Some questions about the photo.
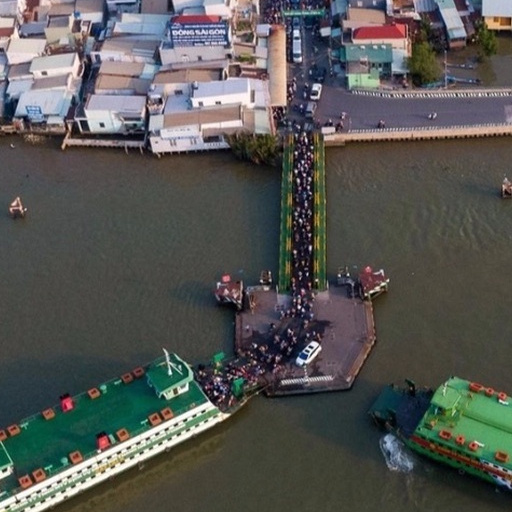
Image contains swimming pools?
No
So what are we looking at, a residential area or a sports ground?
residential area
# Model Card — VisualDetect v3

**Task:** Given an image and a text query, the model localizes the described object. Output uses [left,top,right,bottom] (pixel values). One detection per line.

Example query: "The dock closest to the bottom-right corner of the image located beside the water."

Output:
[233,283,378,401]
